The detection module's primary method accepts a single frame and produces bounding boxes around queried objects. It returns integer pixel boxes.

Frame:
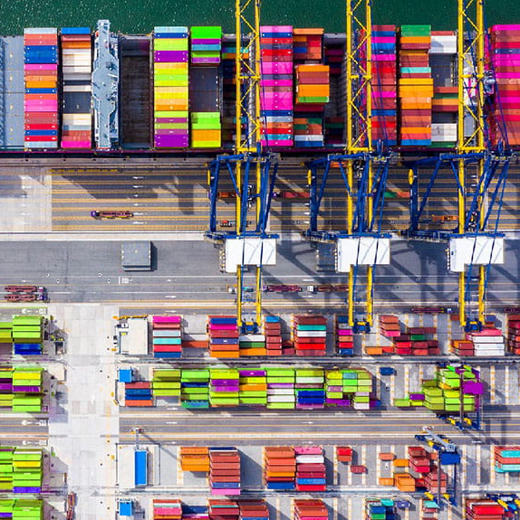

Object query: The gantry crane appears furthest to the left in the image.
[198,0,278,338]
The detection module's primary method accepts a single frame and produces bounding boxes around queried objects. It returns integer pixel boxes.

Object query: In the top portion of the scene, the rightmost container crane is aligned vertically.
[393,0,512,338]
